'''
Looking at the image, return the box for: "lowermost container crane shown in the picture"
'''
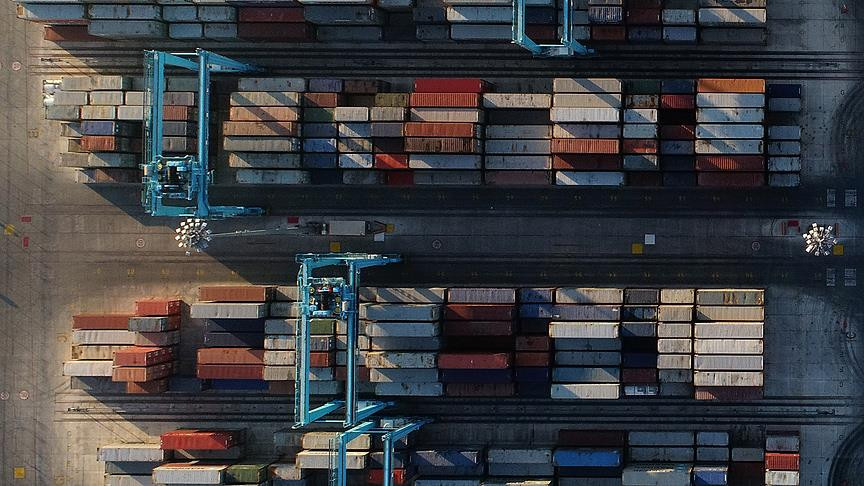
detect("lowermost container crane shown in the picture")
[329,413,435,486]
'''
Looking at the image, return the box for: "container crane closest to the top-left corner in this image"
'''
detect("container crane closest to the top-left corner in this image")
[136,46,267,217]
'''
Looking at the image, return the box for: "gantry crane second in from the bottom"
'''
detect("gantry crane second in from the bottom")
[293,254,401,435]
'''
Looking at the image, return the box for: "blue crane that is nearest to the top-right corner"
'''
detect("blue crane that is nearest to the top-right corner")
[509,0,597,57]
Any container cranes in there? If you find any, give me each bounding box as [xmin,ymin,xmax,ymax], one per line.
[136,46,267,217]
[293,254,401,435]
[329,413,435,486]
[509,0,597,57]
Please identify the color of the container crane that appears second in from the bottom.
blue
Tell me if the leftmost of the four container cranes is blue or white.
blue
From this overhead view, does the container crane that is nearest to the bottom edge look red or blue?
blue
